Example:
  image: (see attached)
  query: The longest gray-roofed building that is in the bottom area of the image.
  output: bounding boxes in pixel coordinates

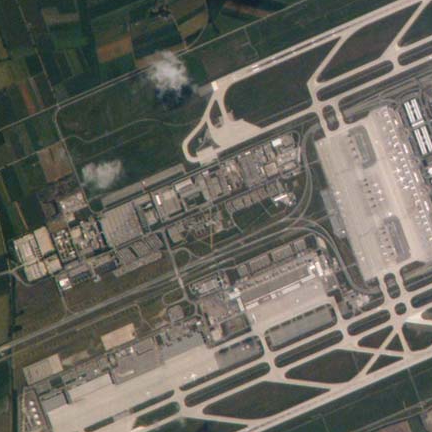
[239,263,313,303]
